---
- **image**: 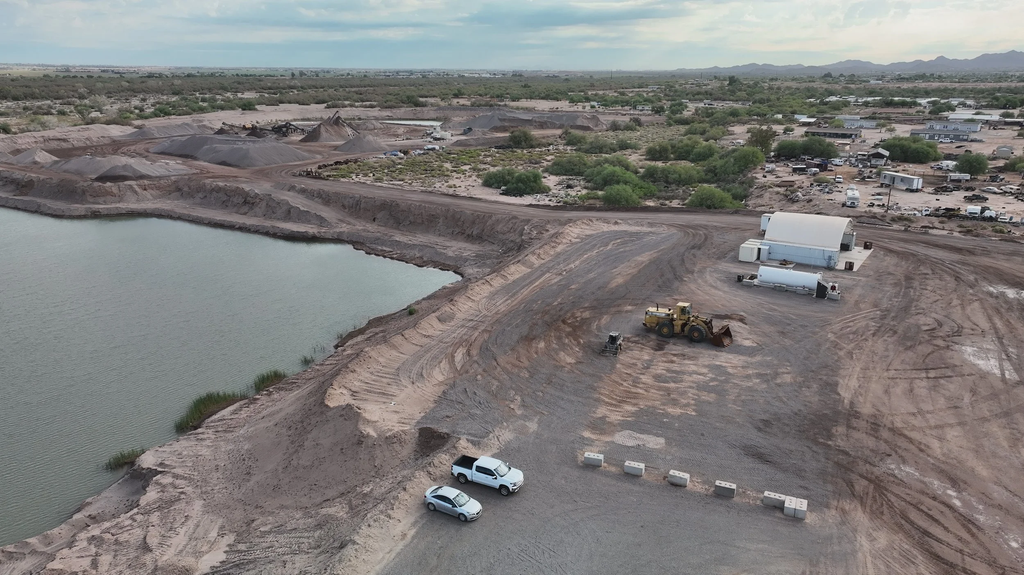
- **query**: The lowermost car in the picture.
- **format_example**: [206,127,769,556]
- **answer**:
[420,486,484,521]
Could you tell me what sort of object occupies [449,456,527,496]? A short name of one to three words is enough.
truck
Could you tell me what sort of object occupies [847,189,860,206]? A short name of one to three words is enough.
vehicle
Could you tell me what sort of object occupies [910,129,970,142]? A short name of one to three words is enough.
house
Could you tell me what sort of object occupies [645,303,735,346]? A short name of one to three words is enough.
work vehicle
